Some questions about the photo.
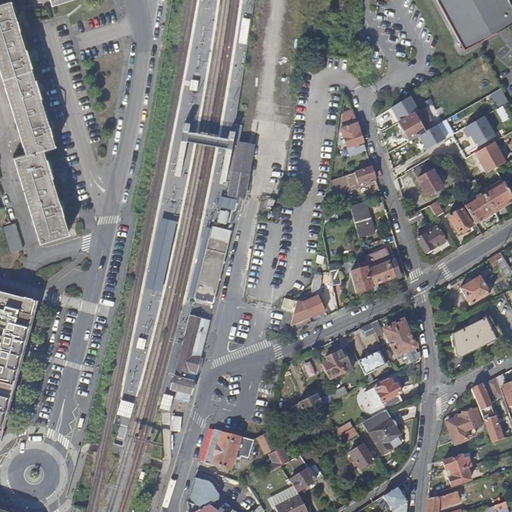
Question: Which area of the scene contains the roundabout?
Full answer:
The roundabout appears toward the bottom left of the photo.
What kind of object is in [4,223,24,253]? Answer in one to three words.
building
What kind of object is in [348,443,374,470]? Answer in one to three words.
house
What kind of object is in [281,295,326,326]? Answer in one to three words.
house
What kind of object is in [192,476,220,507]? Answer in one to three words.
building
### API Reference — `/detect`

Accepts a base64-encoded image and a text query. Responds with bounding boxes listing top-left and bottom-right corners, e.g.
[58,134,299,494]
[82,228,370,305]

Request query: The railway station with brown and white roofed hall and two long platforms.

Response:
[121,0,254,404]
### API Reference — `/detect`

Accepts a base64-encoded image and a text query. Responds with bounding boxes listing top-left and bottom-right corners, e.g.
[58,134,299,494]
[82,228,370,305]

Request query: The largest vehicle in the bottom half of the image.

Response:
[164,478,176,510]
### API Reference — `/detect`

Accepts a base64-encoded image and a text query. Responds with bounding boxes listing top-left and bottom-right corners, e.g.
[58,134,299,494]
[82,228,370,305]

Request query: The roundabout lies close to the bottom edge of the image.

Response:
[0,434,76,512]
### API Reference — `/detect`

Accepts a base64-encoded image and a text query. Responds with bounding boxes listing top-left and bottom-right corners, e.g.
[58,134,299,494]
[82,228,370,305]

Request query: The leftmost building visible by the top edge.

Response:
[0,2,58,156]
